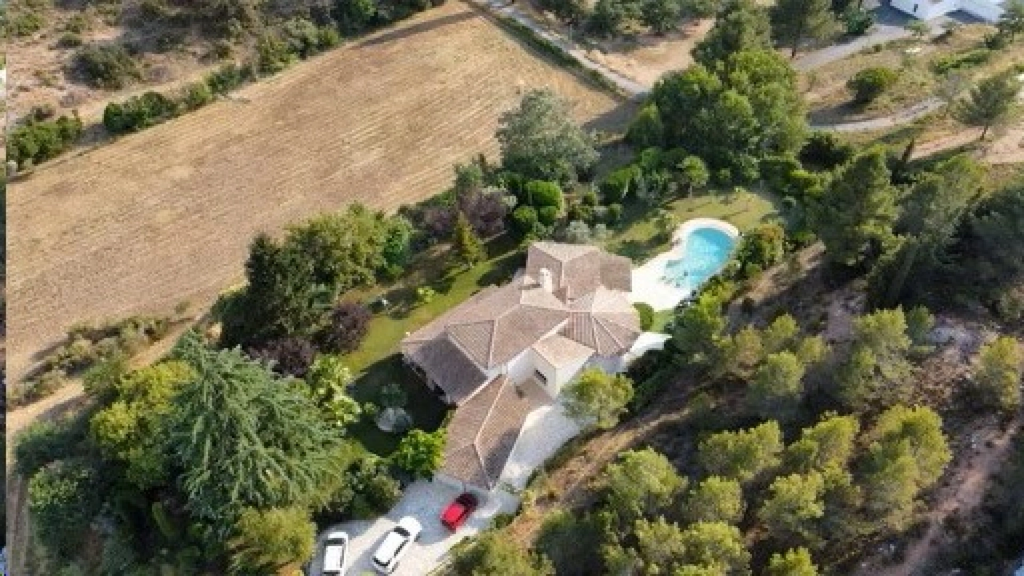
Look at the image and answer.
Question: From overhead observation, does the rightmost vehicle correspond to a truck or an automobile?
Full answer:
The rightmost vehicle can be classified as an automobile.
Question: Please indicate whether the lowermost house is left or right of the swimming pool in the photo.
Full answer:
Relative to the swimming pool, the lowermost house is on the left.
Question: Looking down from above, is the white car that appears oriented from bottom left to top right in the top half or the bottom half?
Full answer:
You can find the white car that appears oriented from bottom left to top right in the bottom half.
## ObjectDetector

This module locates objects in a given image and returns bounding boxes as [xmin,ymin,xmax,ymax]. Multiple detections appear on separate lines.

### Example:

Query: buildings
[400,242,643,498]
[892,0,1024,21]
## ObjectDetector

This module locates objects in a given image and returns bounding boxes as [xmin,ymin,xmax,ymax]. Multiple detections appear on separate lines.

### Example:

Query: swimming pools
[659,223,738,292]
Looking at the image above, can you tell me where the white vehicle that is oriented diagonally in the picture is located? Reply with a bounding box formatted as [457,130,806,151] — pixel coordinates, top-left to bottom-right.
[366,511,428,576]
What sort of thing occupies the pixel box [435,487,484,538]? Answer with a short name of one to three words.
car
